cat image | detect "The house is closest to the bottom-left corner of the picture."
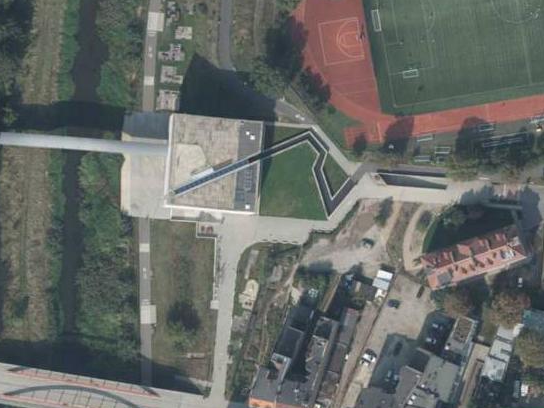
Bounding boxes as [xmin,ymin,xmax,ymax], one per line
[246,363,283,408]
